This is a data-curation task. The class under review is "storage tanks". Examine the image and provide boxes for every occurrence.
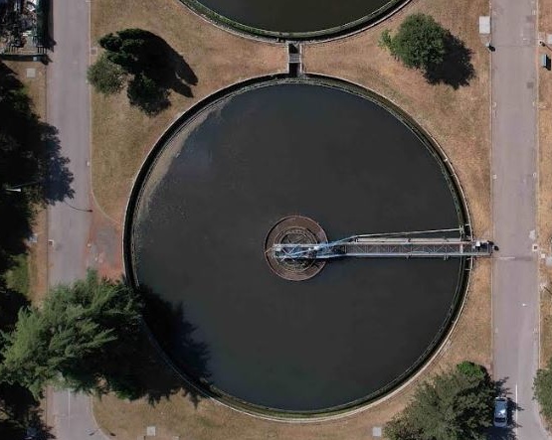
[182,0,411,43]
[122,70,473,421]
